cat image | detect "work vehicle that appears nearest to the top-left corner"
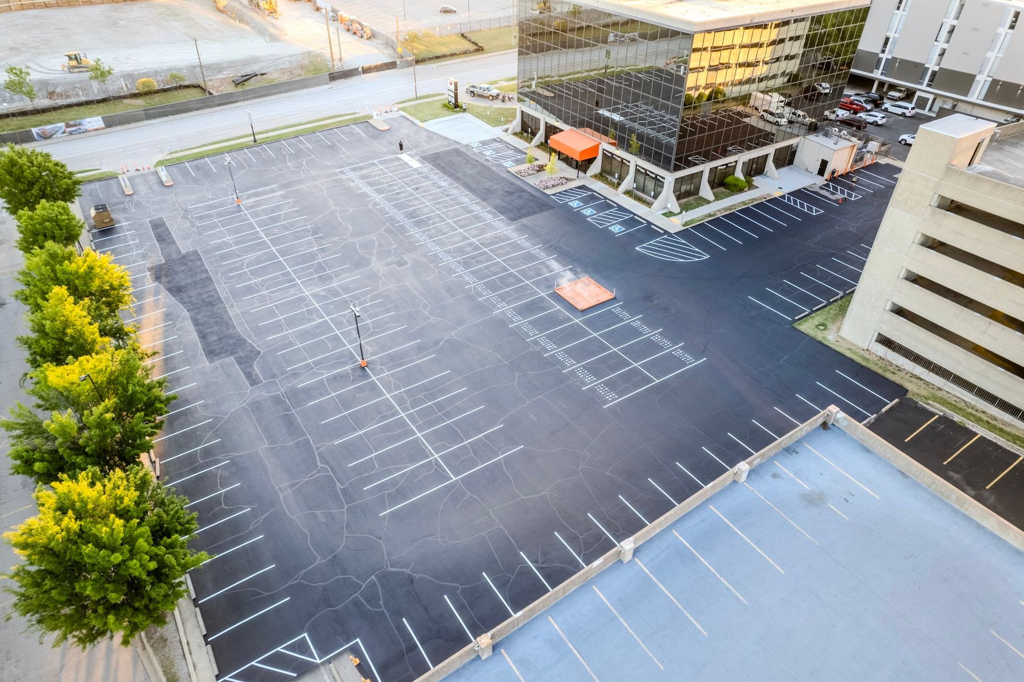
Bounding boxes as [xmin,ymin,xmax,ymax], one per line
[61,53,92,74]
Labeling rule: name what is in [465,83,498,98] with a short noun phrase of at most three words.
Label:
vehicle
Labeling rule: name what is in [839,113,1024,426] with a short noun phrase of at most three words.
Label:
building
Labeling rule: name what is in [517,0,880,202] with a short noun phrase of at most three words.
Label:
building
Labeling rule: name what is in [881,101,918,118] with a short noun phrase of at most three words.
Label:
car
